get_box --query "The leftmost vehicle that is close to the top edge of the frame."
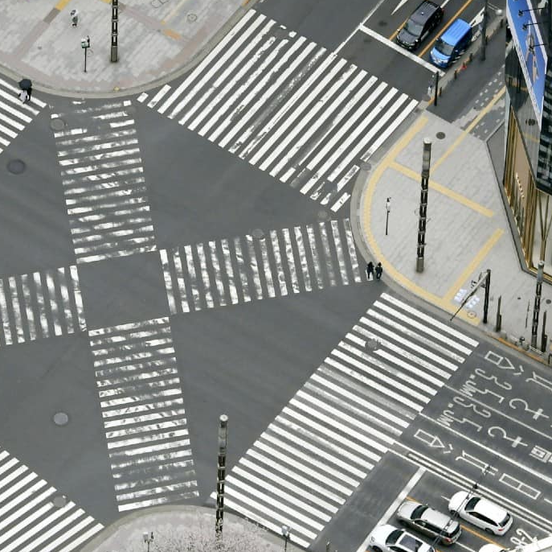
[394,0,446,50]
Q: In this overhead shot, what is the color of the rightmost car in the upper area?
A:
blue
